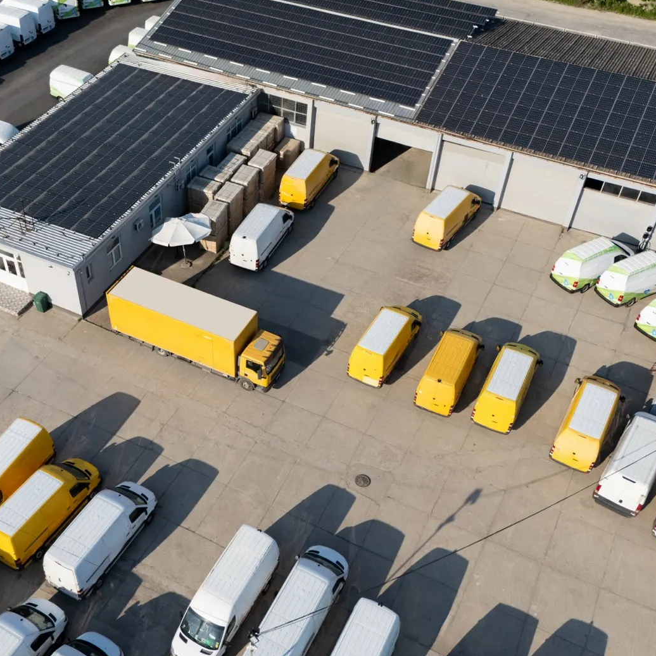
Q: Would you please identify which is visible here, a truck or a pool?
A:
truck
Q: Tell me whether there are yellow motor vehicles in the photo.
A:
Yes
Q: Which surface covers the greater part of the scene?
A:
paved ground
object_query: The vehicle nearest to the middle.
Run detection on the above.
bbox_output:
[347,303,420,390]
